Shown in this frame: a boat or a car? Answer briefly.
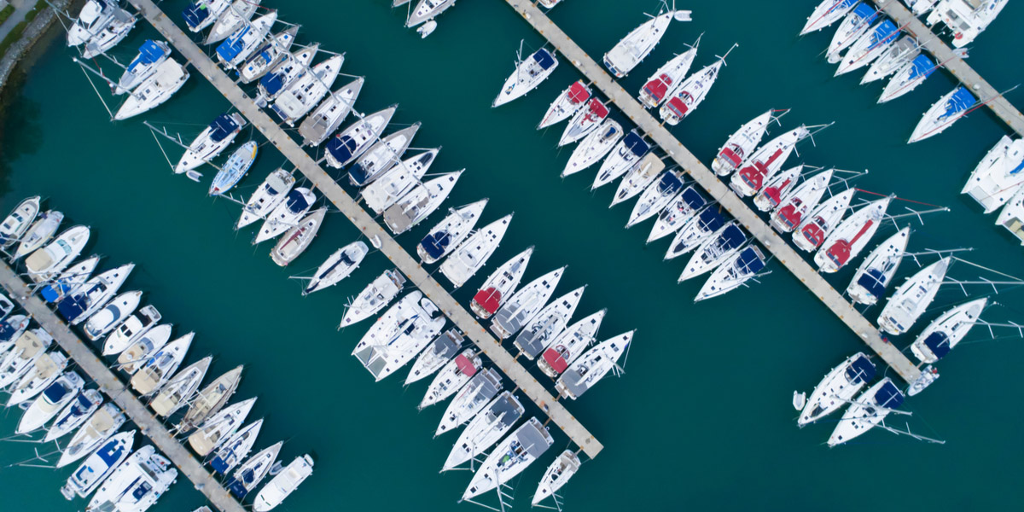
boat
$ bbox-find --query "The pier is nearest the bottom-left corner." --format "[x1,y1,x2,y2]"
[0,257,251,512]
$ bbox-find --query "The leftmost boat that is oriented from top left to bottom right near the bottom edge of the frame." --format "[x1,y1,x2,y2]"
[62,486,77,501]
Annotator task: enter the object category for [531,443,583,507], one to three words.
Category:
boat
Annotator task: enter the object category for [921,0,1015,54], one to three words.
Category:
boat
